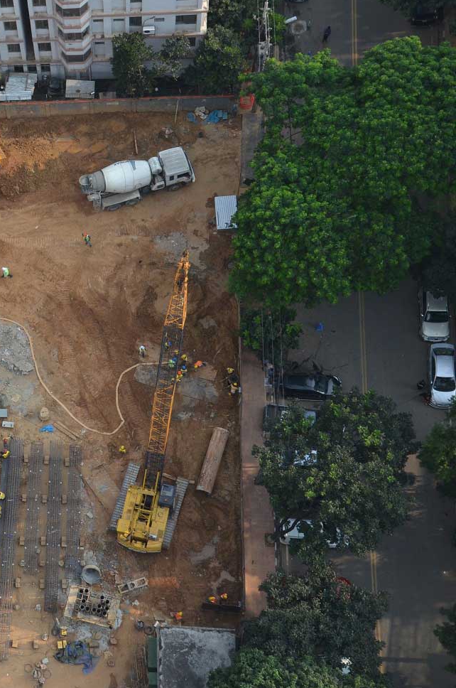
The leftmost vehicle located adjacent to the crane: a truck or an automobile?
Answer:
truck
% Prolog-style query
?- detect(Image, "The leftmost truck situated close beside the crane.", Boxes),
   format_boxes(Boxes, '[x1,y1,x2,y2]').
[78,146,196,213]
